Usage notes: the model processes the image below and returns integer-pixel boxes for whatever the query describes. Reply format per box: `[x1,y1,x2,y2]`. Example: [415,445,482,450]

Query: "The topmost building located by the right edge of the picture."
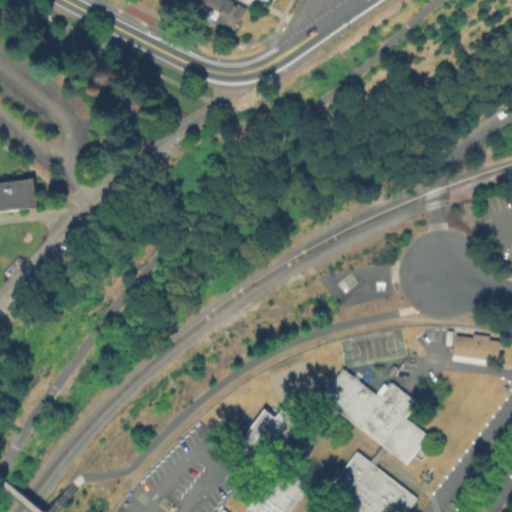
[452,336,502,366]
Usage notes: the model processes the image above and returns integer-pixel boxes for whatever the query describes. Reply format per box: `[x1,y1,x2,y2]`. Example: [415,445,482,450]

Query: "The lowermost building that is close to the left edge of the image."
[0,178,35,208]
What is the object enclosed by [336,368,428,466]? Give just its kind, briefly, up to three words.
building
